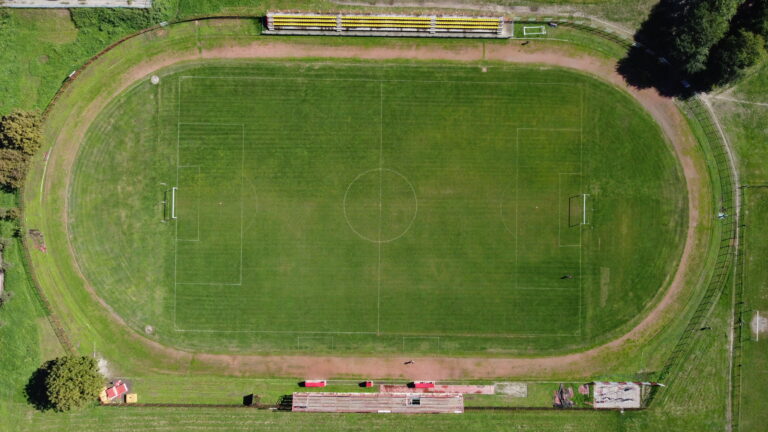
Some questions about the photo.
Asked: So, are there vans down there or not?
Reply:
No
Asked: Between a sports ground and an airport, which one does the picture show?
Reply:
sports ground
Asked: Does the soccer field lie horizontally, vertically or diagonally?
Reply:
horizontally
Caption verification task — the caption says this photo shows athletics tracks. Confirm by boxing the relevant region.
[42,35,713,381]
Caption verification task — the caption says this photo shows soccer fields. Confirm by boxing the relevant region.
[68,62,687,356]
